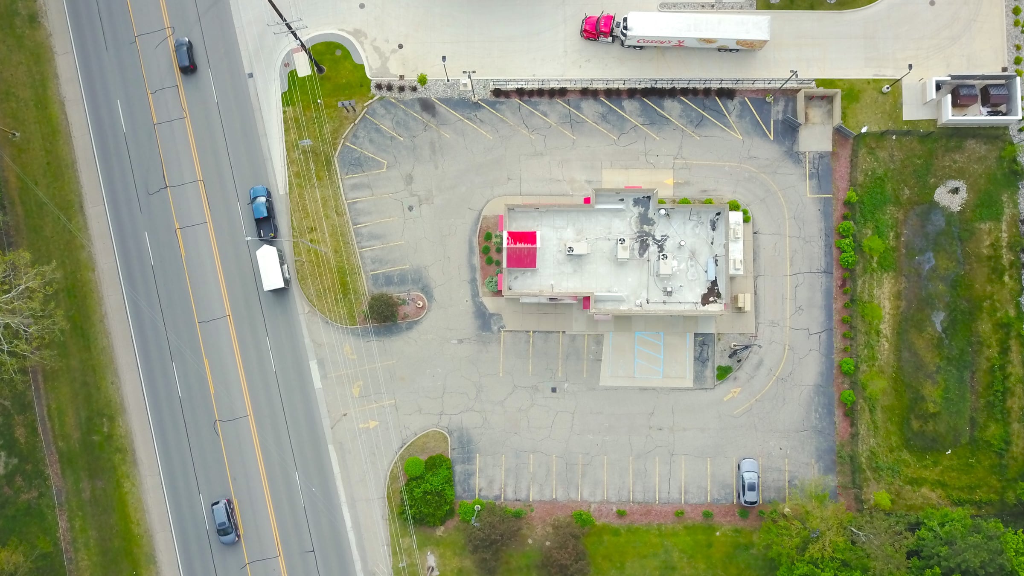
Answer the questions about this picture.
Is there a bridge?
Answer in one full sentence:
No, the scene contains no bridge.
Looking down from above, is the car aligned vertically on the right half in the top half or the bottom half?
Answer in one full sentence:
The car aligned vertically on the right half sits in the bottom half of the picture.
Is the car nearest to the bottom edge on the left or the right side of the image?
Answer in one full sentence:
The car nearest to the bottom edge appears in the left half of the scene.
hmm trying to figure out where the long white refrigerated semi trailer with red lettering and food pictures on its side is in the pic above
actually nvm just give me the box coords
[617,11,770,55]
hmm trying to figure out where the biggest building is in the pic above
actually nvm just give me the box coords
[498,187,729,319]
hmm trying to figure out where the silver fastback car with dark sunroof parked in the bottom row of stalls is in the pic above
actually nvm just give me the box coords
[738,458,761,507]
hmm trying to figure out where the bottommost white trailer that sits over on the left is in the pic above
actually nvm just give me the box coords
[256,241,291,293]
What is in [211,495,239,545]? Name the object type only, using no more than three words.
car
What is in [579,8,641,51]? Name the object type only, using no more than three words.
vehicle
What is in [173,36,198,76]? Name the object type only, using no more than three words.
car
